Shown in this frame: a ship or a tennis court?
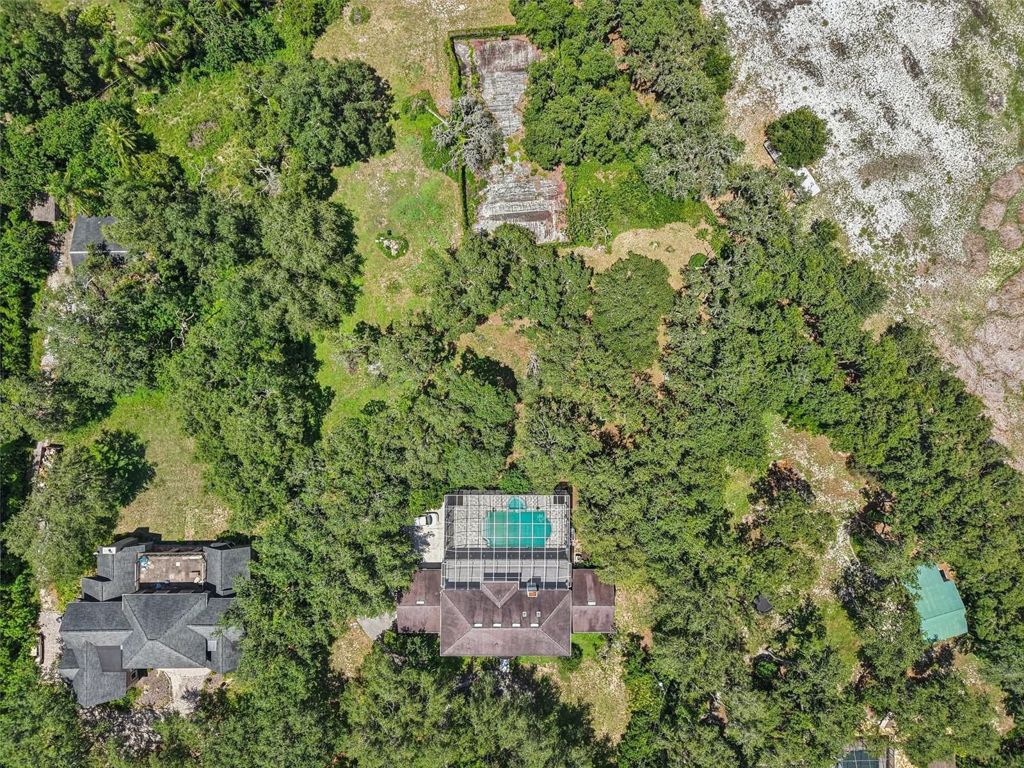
tennis court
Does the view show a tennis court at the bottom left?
No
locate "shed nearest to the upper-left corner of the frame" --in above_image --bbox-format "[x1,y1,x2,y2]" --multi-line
[32,193,65,223]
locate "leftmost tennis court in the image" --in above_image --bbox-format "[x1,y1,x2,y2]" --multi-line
[456,36,572,242]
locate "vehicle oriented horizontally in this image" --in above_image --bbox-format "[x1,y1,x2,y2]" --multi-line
[411,513,439,526]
